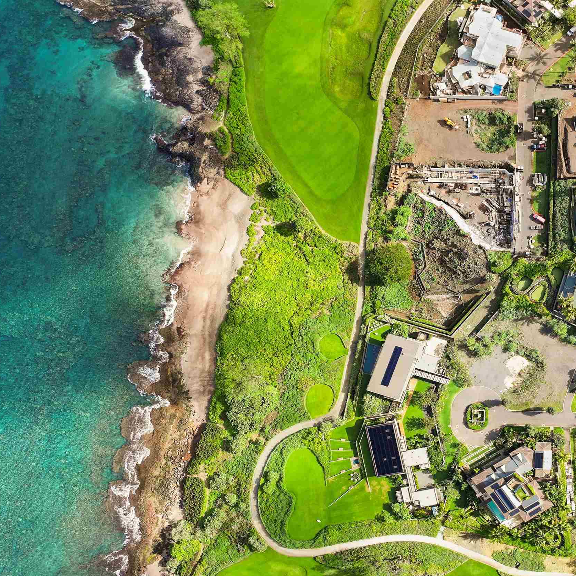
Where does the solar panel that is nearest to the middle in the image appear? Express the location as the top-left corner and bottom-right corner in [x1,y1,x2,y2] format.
[381,346,403,386]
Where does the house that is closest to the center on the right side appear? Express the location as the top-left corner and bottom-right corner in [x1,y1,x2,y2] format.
[362,331,450,403]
